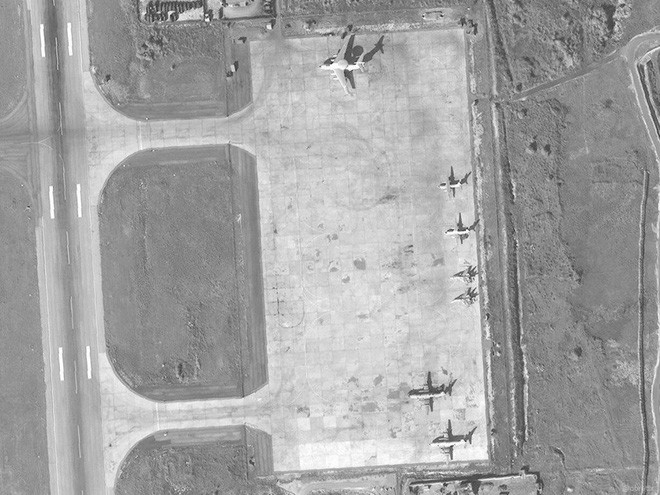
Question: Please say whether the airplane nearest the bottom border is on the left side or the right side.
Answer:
right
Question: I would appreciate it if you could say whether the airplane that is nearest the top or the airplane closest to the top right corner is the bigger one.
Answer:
the airplane that is nearest the top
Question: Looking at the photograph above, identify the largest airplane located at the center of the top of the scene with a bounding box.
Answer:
[320,39,366,92]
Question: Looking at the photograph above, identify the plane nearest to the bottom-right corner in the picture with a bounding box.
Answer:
[431,423,467,464]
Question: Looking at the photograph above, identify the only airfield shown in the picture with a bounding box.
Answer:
[23,0,489,495]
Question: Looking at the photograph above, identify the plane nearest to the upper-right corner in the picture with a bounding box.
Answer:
[439,170,463,200]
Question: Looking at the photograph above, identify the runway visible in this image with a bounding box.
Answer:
[23,0,115,495]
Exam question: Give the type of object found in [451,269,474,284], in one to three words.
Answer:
airplane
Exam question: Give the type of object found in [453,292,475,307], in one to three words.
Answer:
airplane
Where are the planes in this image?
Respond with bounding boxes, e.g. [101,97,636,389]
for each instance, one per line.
[431,423,467,464]
[453,292,475,307]
[451,269,474,284]
[446,216,471,247]
[320,39,366,92]
[409,376,447,416]
[439,170,463,200]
